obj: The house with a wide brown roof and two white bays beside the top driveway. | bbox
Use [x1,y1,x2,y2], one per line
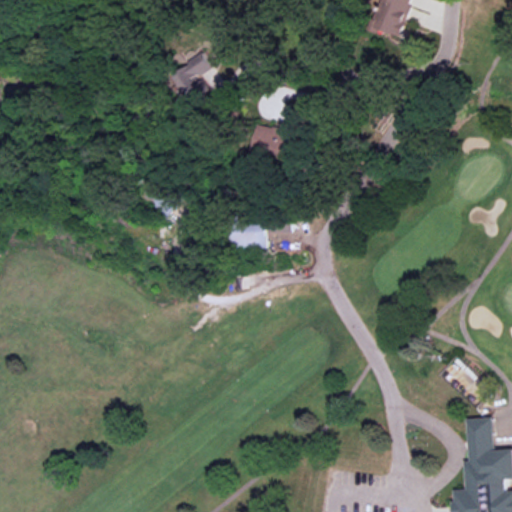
[362,0,408,40]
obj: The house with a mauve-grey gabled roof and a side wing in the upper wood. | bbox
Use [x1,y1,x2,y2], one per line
[172,54,211,96]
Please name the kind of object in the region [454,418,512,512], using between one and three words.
building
